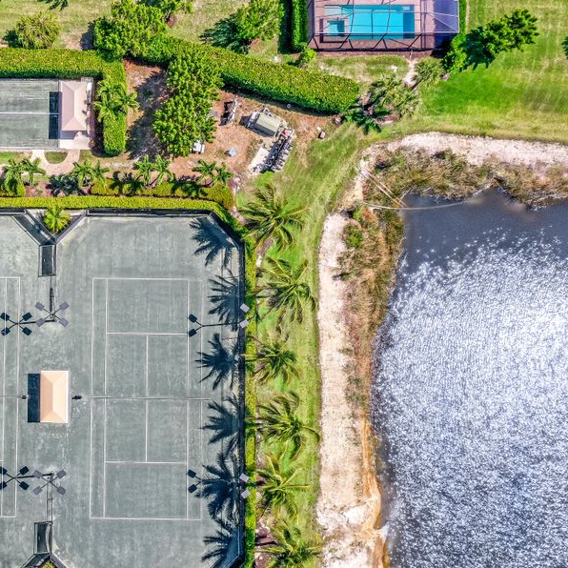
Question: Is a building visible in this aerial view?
Yes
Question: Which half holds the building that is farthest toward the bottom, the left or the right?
left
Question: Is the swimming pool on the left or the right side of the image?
right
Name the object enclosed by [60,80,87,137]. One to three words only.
building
